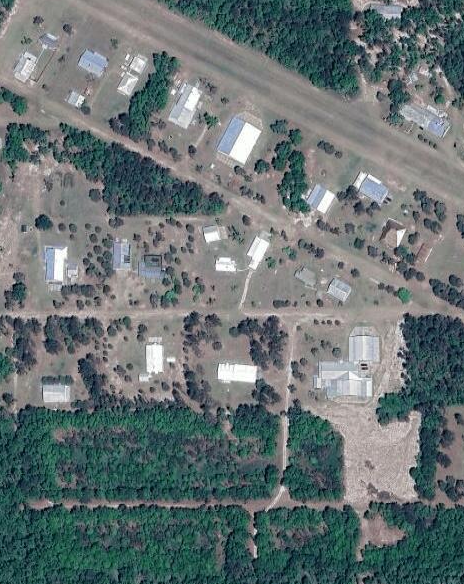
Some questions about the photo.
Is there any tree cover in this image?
Yes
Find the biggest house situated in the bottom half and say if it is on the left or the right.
right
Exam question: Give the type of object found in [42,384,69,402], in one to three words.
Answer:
house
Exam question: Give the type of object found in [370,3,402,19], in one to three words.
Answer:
house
